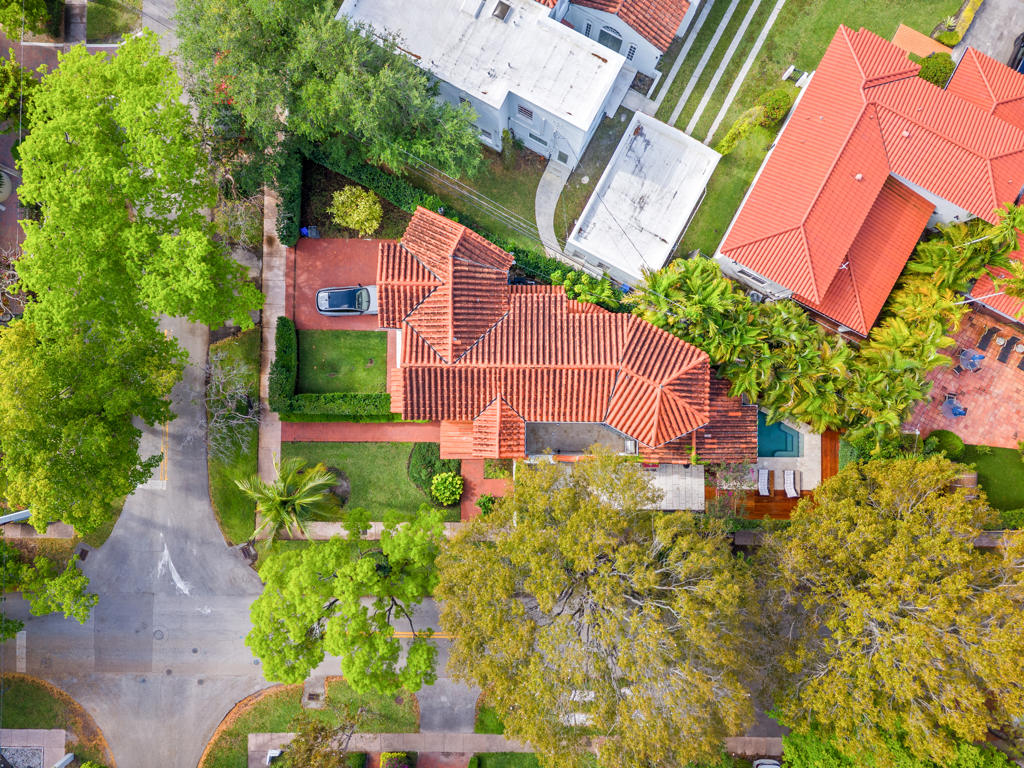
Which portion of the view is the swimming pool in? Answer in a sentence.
The swimming pool is located in the right region of the scene.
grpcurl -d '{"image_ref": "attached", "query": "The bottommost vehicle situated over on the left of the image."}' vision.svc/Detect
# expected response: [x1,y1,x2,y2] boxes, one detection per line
[311,280,379,318]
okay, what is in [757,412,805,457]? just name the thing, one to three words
swimming pool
